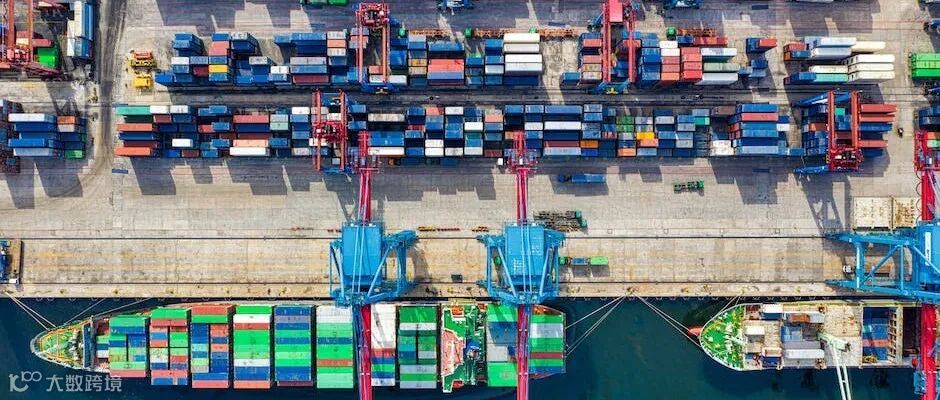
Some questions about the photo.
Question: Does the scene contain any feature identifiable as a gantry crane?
Yes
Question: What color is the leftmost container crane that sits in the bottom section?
blue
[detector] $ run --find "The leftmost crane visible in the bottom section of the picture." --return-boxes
[324,132,421,400]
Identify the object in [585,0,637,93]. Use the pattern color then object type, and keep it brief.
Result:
red container crane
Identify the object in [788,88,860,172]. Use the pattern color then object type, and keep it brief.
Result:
red container crane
